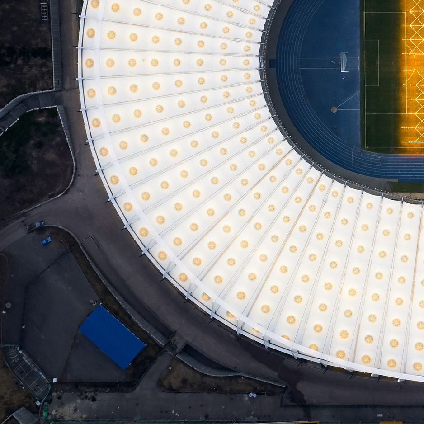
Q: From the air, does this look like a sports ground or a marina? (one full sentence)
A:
This image shows a sports ground.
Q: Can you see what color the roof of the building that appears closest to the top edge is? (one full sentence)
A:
The color of the roof on the building that appears closest to the top edge is blue.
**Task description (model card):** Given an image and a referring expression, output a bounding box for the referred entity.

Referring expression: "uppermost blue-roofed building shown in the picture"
[79,301,152,370]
